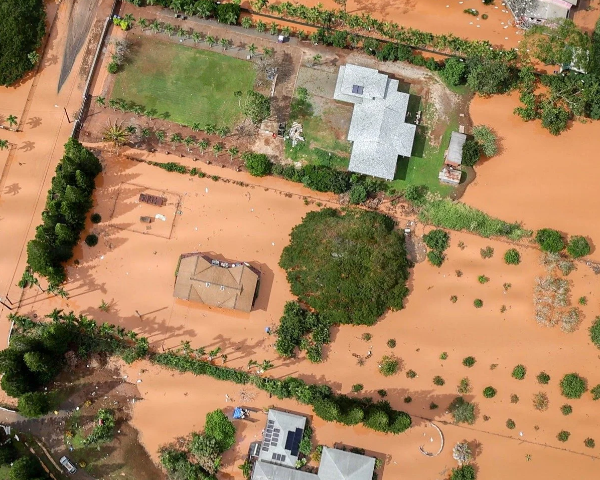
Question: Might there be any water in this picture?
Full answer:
Yes, there is water in the image.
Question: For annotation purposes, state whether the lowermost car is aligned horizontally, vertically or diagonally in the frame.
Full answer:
The lowermost car is laid out diagonally.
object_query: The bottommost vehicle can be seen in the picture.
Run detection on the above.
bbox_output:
[58,454,78,477]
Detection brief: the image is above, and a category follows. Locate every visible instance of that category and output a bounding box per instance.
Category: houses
[334,63,416,183]
[252,409,376,480]
[174,252,260,313]
[525,0,577,22]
